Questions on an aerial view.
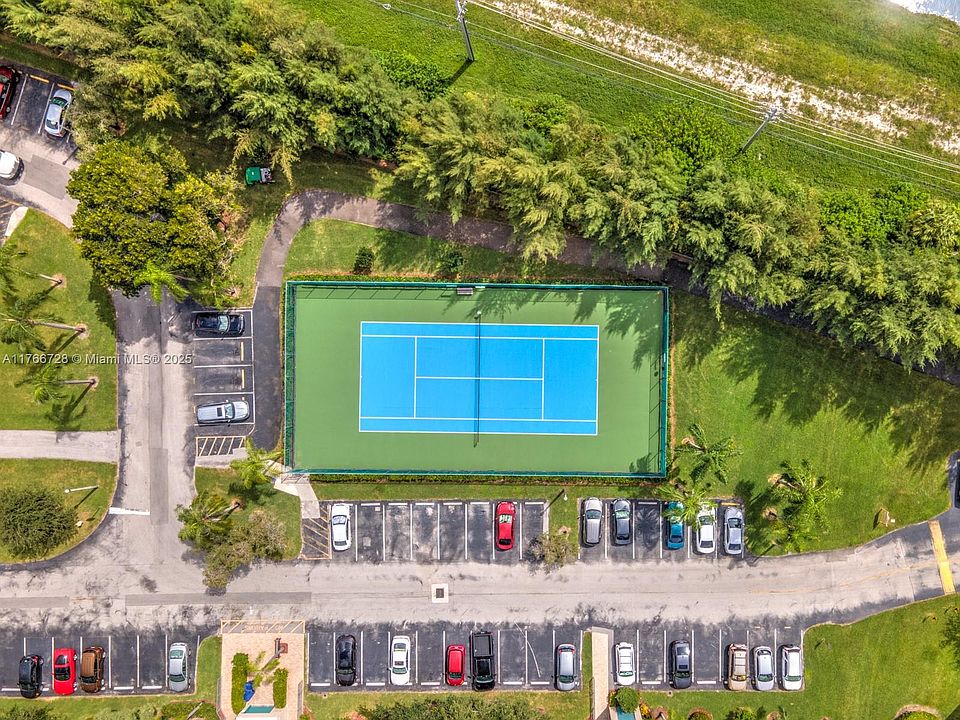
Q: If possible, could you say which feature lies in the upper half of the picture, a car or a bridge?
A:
car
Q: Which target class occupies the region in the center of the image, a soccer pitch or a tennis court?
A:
tennis court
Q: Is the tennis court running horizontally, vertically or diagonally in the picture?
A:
horizontally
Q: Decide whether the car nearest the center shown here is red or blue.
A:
red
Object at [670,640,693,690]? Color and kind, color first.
gray car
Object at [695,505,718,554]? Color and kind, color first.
white car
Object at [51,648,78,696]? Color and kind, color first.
red car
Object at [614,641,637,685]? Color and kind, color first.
white car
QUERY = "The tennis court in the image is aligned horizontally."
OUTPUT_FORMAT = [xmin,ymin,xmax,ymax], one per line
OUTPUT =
[292,286,664,474]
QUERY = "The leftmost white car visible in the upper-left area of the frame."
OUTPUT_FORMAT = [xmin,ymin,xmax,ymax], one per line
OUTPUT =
[0,151,22,176]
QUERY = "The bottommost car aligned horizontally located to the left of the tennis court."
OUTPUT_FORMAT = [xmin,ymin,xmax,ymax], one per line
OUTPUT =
[195,400,249,424]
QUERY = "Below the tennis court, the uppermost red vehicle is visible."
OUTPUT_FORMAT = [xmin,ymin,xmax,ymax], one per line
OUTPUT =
[493,501,516,550]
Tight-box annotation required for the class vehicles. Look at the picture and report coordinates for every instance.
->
[0,71,18,120]
[194,313,246,336]
[15,653,43,699]
[165,642,190,693]
[328,502,352,551]
[195,400,249,424]
[51,648,78,696]
[611,498,633,546]
[444,644,465,687]
[77,645,105,694]
[726,643,750,691]
[670,640,693,690]
[42,87,76,139]
[723,506,746,557]
[471,629,494,692]
[388,636,411,686]
[556,643,578,691]
[614,641,637,685]
[493,501,516,550]
[333,634,357,686]
[0,151,22,176]
[695,505,718,554]
[779,643,804,692]
[752,645,776,691]
[665,501,683,550]
[581,496,604,547]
